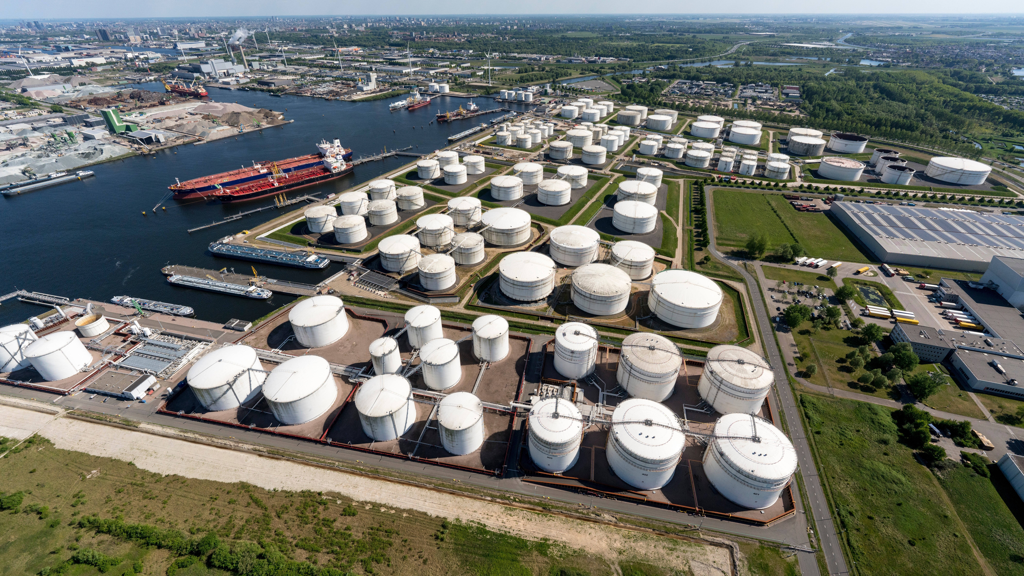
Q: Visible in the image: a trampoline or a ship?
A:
ship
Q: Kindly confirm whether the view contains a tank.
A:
Yes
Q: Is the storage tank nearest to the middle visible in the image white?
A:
Yes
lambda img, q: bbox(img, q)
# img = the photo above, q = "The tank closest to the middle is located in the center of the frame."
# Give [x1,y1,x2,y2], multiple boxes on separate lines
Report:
[496,252,558,303]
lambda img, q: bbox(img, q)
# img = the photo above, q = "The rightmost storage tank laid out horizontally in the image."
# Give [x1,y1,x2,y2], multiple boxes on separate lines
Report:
[922,157,993,185]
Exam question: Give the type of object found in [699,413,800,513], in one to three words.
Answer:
storage tank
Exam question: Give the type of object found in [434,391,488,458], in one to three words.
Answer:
storage tank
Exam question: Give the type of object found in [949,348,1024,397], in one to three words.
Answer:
building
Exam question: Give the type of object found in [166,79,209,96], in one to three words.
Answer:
ship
